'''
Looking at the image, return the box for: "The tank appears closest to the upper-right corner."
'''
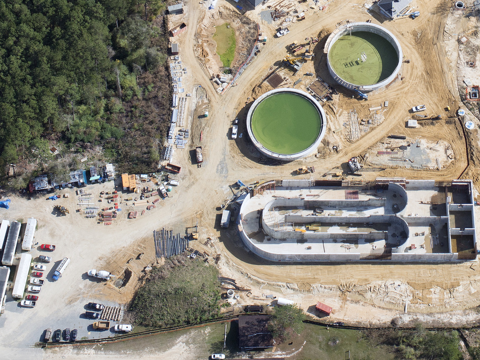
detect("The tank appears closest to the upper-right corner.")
[325,23,403,93]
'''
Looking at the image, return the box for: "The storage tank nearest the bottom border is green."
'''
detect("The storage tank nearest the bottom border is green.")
[247,88,326,162]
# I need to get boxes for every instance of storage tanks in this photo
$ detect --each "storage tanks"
[247,88,326,162]
[325,23,403,93]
